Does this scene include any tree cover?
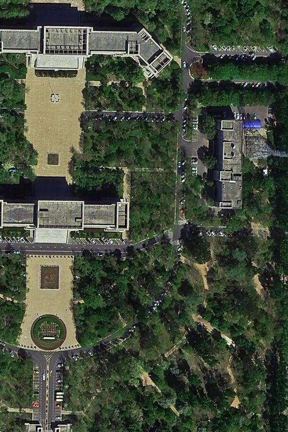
Yes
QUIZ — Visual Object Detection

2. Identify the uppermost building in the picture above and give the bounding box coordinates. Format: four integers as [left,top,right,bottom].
[0,27,175,78]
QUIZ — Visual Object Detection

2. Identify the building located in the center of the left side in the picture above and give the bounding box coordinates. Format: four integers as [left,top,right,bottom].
[0,199,130,244]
